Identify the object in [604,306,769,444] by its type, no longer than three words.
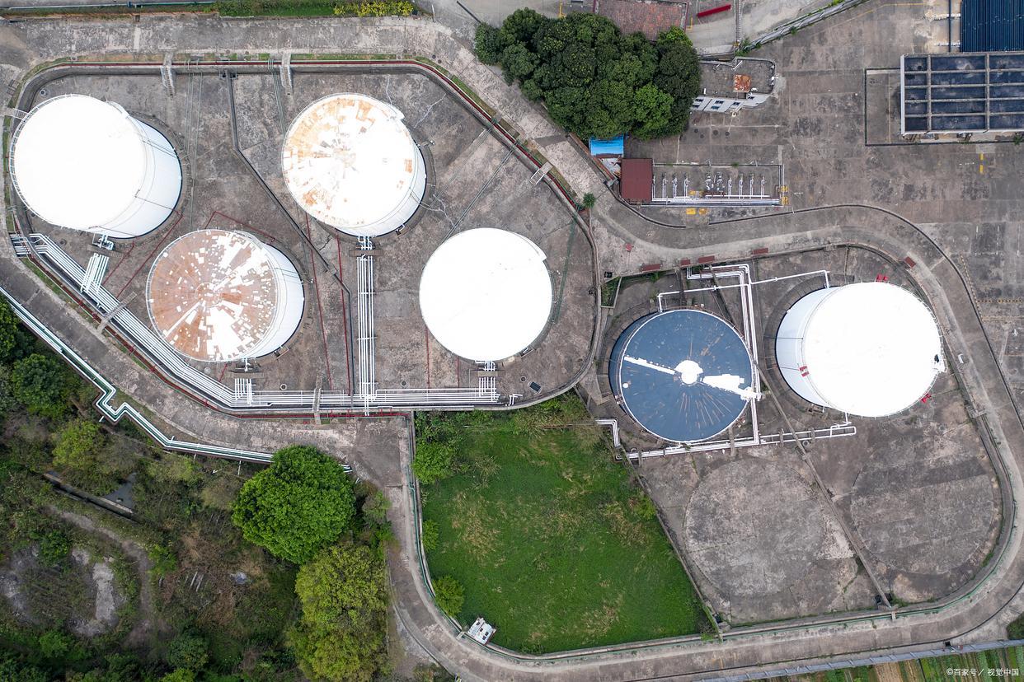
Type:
storage tank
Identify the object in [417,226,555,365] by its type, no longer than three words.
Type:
storage tank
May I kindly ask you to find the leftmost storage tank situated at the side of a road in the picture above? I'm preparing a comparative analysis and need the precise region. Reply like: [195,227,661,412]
[6,92,187,252]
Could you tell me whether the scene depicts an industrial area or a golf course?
industrial area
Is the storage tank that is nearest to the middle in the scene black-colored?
No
